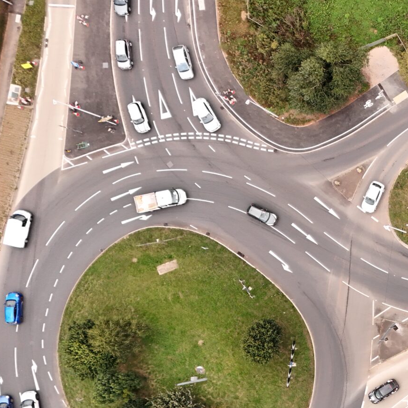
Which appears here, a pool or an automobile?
automobile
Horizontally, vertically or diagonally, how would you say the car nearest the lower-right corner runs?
diagonally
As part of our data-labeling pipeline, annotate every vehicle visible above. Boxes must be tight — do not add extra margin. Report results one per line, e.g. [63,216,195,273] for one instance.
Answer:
[115,39,135,71]
[129,186,189,213]
[361,180,386,215]
[367,375,402,406]
[172,45,196,82]
[0,208,32,250]
[245,201,281,229]
[127,100,153,135]
[192,95,222,135]
[5,292,26,325]
[19,389,41,408]
[0,395,15,408]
